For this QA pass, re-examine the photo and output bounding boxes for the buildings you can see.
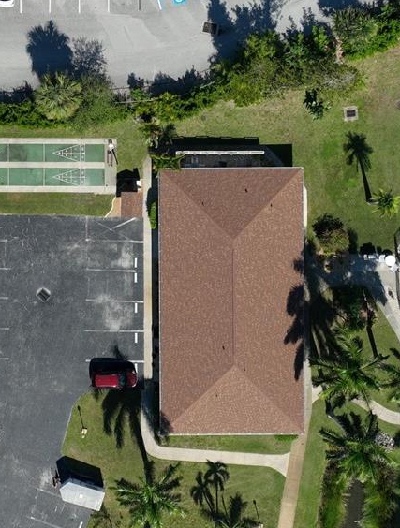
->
[122,191,143,218]
[158,166,305,436]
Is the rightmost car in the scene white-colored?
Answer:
No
